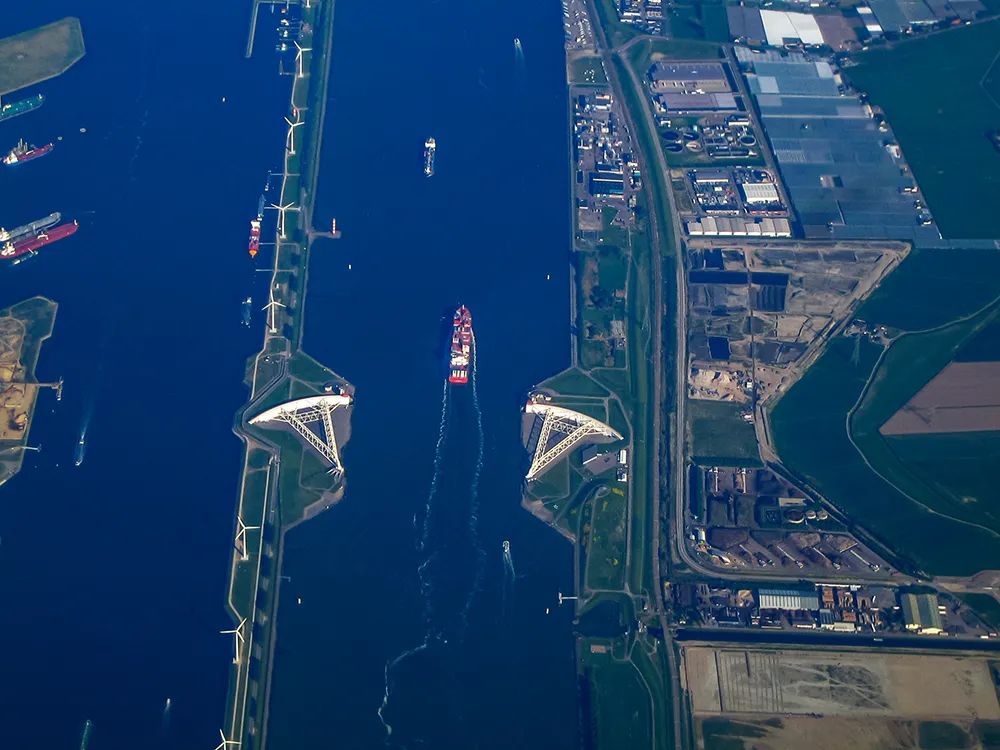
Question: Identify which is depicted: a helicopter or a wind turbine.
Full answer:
Of the two, only a wind turbine appears.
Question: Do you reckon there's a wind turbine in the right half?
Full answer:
No, in the right half there is no wind turbine.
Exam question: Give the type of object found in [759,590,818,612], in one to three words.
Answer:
building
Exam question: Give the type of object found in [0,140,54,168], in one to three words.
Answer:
ship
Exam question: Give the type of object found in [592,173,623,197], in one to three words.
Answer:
building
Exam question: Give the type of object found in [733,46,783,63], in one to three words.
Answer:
greenhouse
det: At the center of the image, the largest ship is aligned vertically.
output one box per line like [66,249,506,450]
[449,307,471,387]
